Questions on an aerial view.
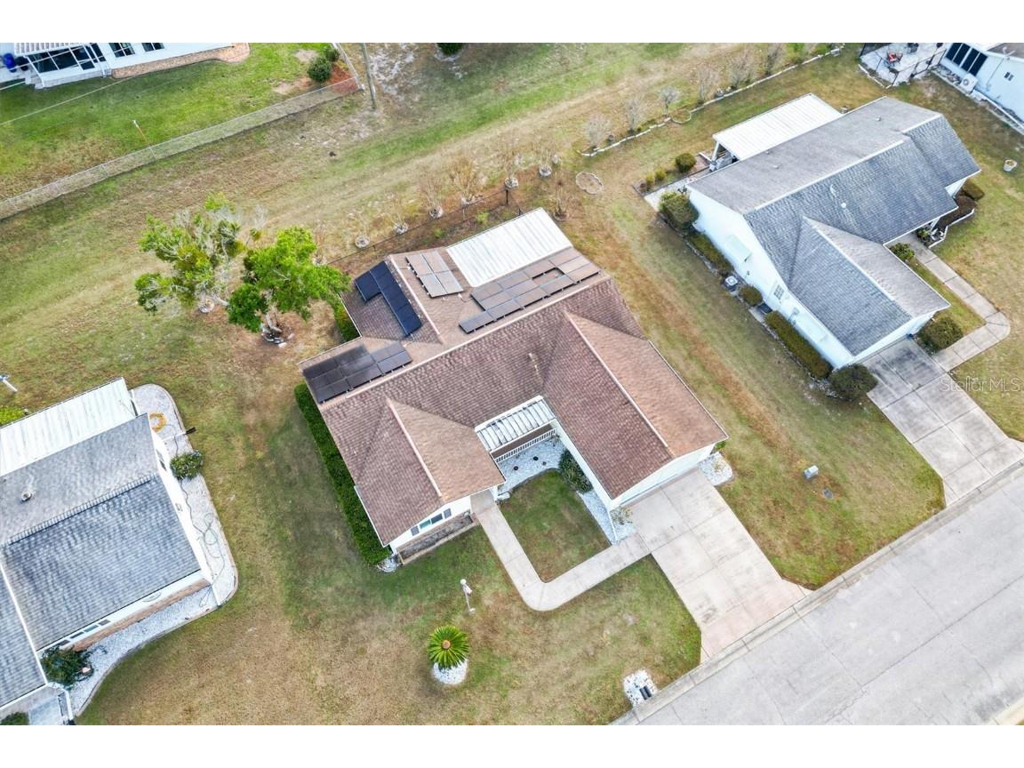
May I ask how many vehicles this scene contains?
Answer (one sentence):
There are no vehicles in this view.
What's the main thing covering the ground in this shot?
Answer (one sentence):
For the most part, this view shows grass.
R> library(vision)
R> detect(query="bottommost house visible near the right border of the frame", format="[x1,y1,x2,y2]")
[683,94,983,373]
